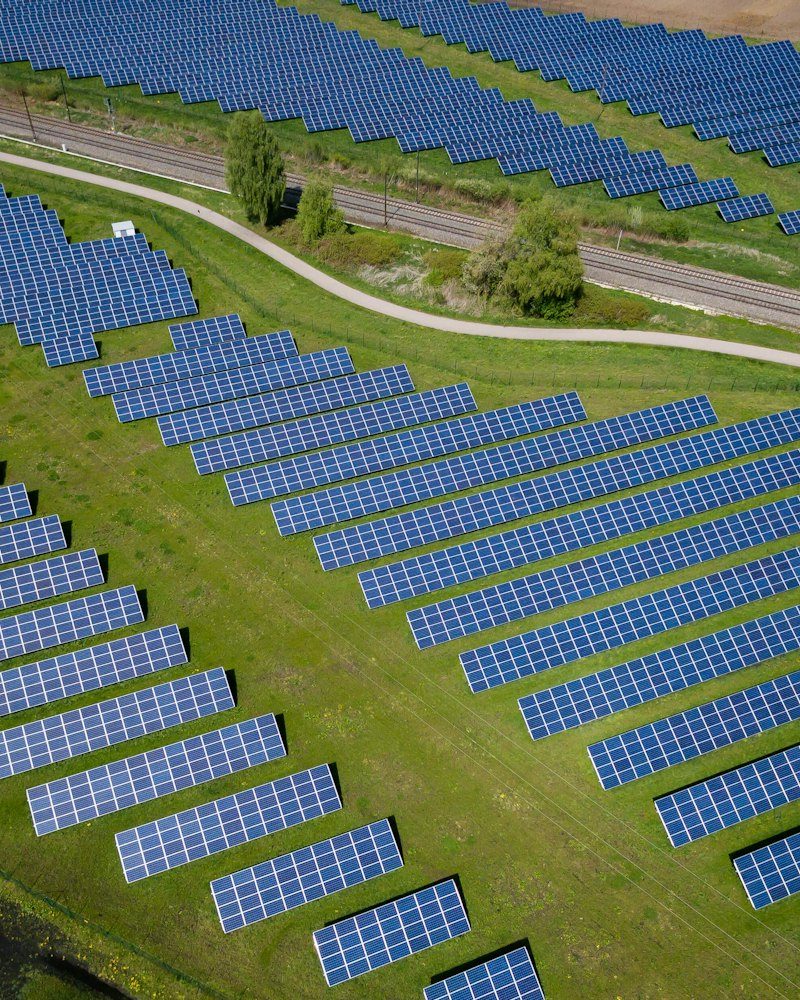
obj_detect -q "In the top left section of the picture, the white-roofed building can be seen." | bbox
[110,220,134,238]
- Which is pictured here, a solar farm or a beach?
solar farm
